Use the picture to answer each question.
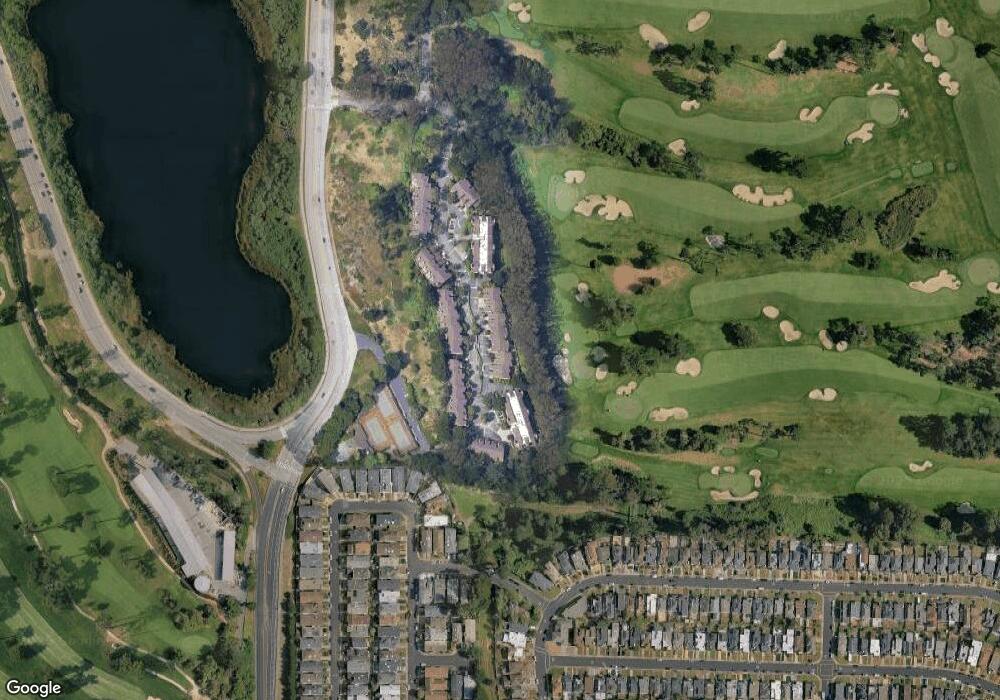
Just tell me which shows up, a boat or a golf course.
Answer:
golf course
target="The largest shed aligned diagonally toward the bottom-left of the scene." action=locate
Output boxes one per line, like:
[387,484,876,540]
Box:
[131,472,206,583]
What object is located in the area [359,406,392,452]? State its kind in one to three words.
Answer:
tennis court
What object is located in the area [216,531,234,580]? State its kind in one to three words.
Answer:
shed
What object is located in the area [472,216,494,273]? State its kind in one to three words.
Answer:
building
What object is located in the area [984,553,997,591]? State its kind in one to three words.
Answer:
house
